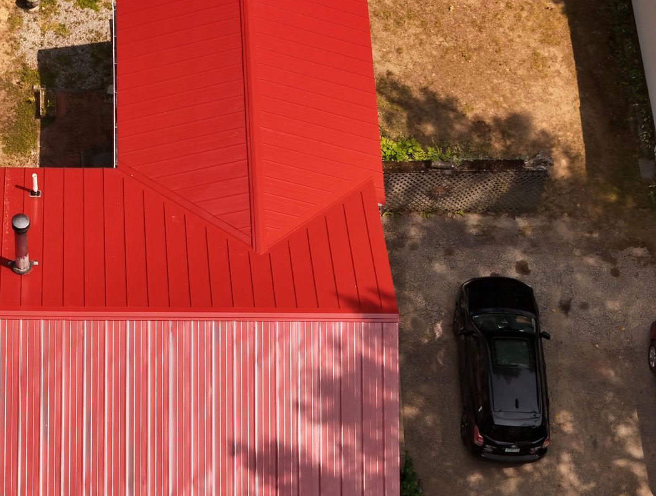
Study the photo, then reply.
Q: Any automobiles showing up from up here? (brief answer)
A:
Yes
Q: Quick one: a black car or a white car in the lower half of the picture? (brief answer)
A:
black car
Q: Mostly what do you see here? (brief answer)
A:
buildings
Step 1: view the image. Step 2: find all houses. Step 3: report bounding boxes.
[0,0,401,496]
[634,0,656,188]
